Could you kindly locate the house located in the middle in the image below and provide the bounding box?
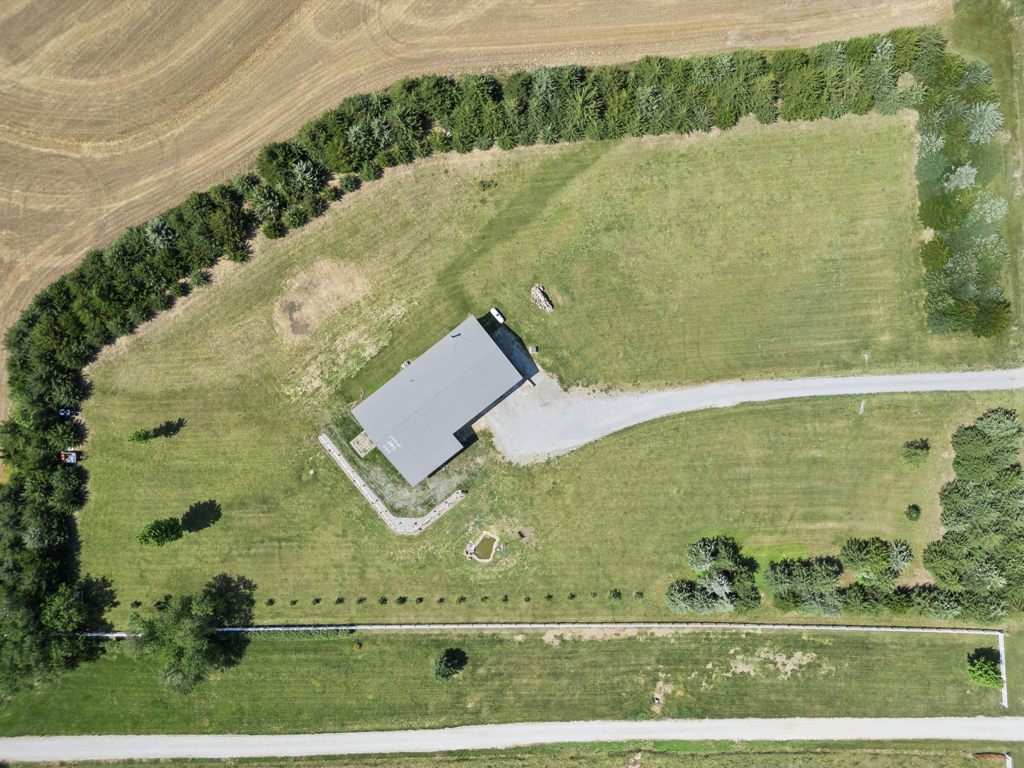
[351,313,522,487]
